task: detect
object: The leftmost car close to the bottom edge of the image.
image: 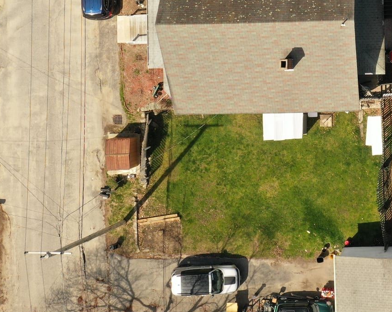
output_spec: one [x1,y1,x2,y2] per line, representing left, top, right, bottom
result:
[171,263,242,299]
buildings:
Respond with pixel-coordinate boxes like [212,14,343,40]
[105,130,145,177]
[333,247,392,312]
[155,0,362,115]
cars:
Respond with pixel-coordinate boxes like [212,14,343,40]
[171,263,242,299]
[83,0,120,19]
[275,295,334,312]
